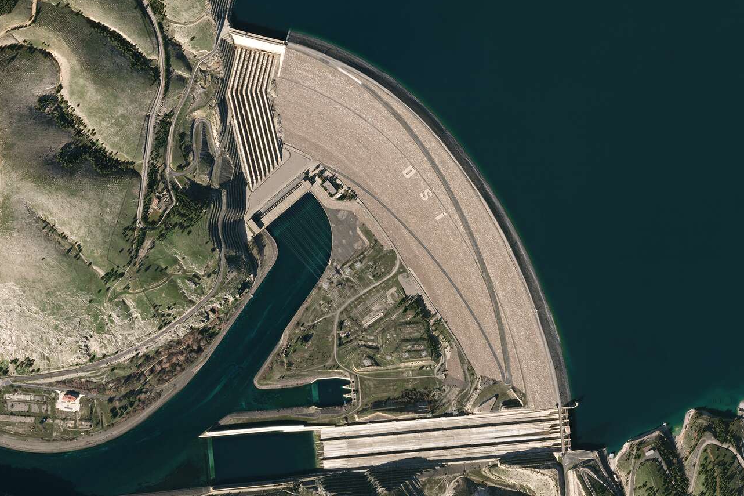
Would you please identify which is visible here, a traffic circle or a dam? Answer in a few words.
dam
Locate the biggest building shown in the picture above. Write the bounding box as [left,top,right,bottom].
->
[257,177,313,233]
